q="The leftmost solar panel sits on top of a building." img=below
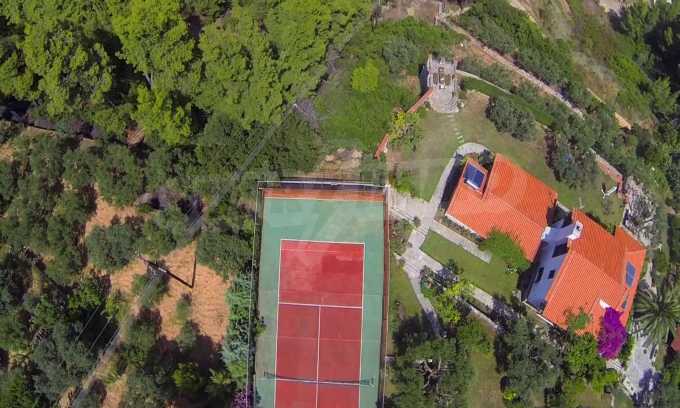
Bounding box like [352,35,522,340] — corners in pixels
[464,163,487,191]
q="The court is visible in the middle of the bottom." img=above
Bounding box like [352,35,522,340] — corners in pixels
[252,189,388,408]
